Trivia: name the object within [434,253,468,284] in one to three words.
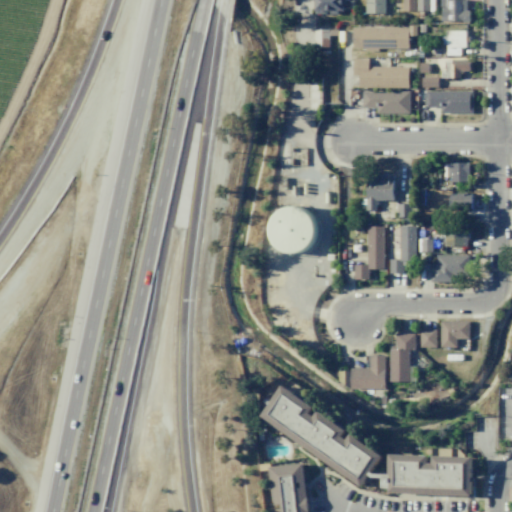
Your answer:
house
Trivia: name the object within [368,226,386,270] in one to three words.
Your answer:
house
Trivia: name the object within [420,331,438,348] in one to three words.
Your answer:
building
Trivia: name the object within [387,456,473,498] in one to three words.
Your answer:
building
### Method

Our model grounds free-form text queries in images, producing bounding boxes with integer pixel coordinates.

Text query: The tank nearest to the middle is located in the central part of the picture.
[268,206,318,254]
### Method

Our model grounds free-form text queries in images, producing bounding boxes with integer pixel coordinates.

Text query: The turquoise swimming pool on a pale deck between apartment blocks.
[266,437,294,462]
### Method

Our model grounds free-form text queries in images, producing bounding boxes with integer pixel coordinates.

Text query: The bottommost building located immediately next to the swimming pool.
[270,464,310,512]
